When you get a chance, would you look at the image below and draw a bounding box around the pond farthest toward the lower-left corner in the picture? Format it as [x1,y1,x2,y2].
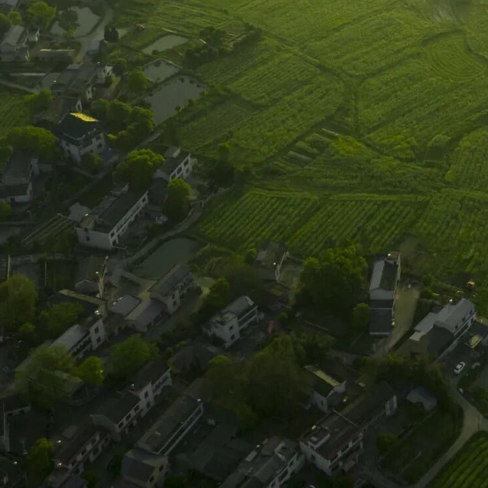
[132,238,203,278]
